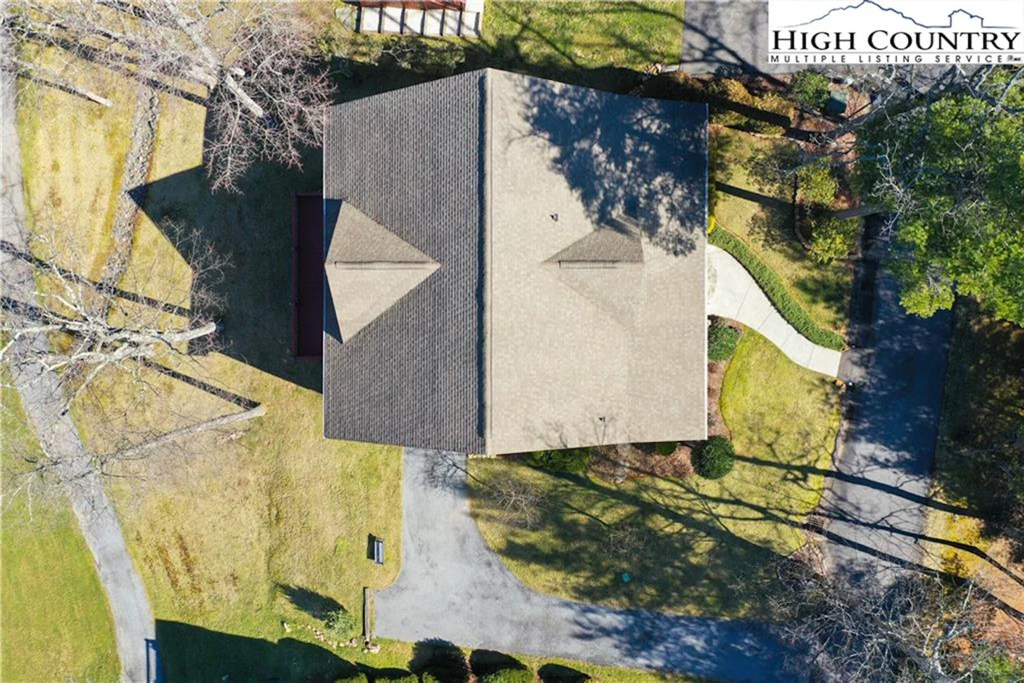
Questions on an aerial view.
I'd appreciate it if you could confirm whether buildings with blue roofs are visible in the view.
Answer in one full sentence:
No, there isn't any building with a blue roof down there.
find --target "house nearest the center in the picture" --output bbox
[321,68,709,455]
